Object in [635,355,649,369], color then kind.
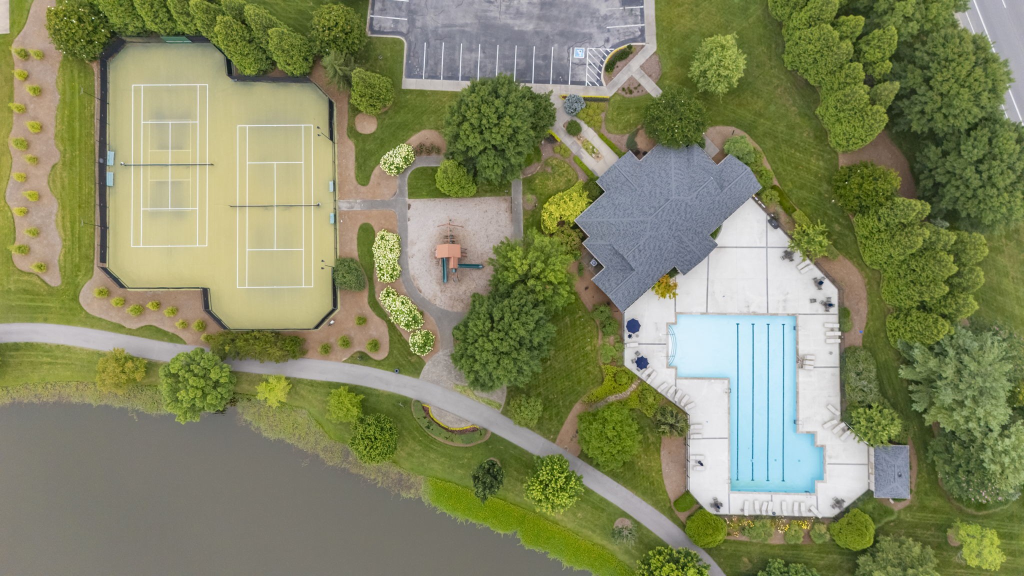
blue umbrella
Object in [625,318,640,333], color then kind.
blue umbrella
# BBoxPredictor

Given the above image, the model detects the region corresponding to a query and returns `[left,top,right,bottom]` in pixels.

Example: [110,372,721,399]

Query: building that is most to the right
[866,444,910,499]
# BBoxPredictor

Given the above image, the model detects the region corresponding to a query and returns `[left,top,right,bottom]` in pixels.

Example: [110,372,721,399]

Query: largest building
[573,127,762,313]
